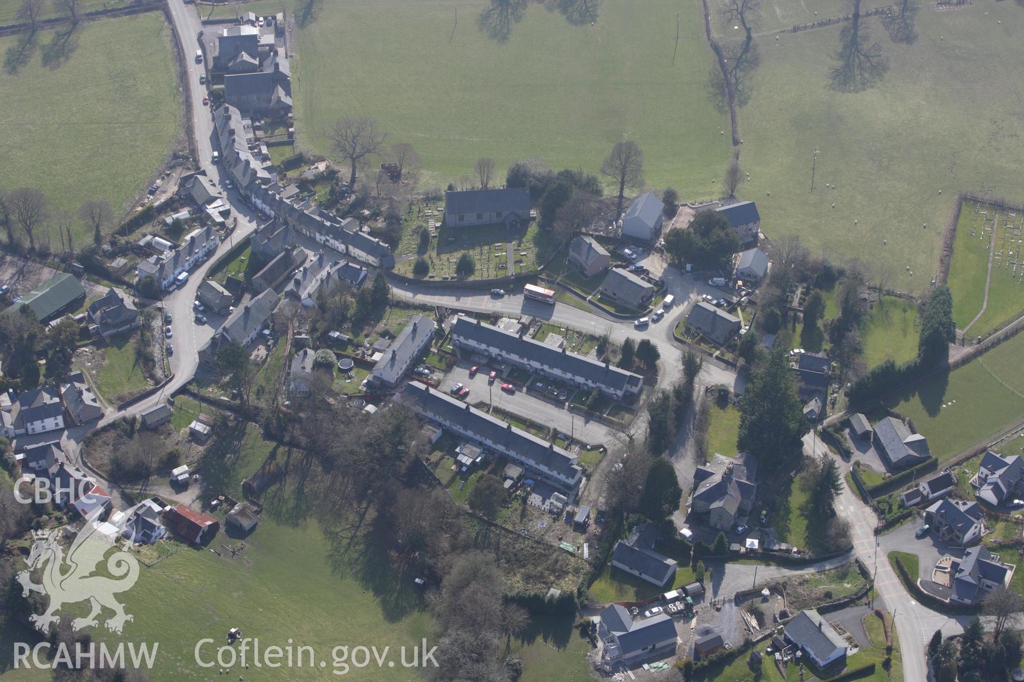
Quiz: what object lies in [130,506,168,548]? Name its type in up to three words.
house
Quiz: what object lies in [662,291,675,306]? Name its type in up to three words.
vehicle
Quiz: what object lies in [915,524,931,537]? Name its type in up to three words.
vehicle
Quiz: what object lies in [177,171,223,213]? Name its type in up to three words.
building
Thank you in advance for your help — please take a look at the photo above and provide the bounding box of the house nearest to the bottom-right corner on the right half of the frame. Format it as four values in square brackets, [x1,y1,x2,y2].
[952,546,1009,606]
